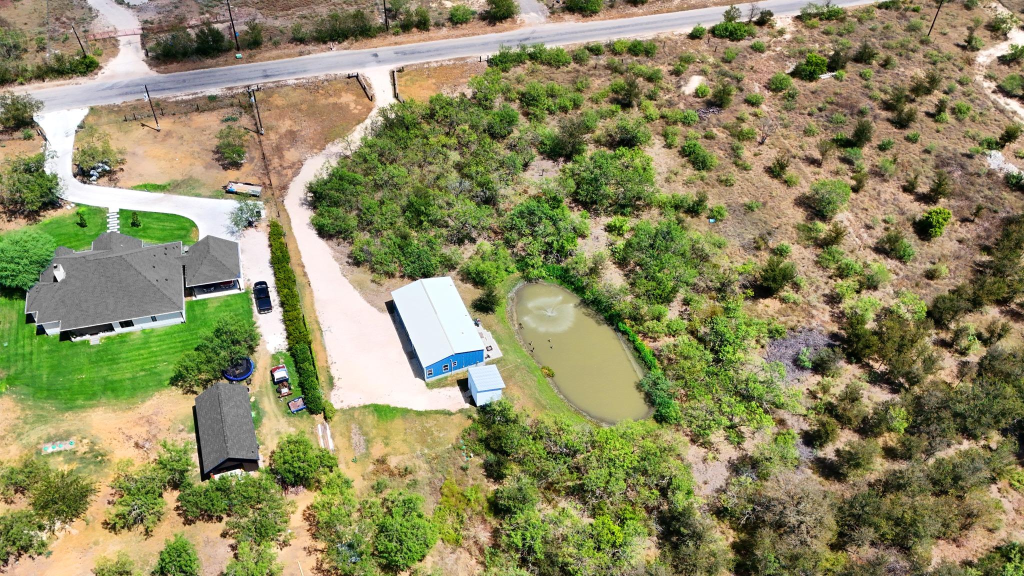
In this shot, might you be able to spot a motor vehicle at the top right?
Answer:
No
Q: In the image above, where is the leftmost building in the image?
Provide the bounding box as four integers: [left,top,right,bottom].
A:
[19,232,195,346]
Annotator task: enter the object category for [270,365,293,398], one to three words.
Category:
truck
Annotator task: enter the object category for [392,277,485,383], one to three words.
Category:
building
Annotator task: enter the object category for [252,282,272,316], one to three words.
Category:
vehicle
